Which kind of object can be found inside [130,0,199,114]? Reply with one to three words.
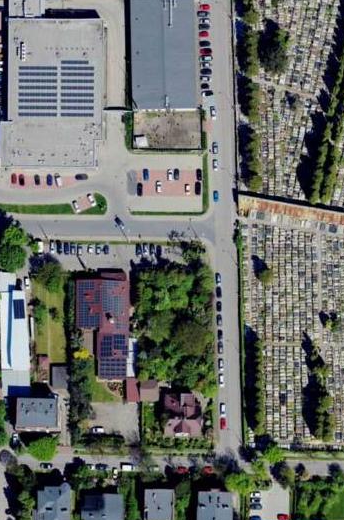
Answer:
building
